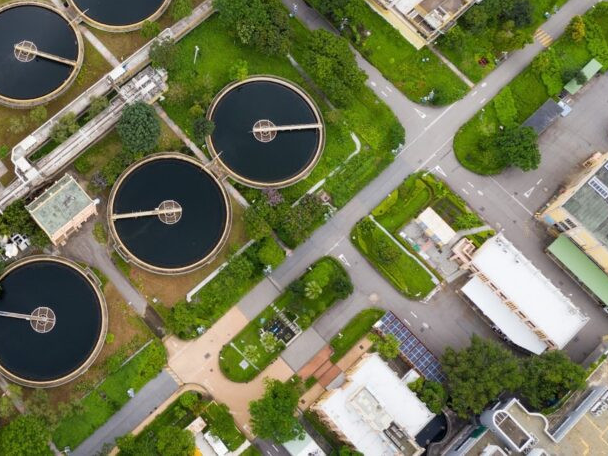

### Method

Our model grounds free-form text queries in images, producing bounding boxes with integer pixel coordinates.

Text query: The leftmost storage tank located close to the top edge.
[0,1,84,108]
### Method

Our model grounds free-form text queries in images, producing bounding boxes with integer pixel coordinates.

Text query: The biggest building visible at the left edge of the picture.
[24,170,95,240]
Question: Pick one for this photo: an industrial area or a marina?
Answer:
industrial area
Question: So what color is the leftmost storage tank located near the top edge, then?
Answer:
black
